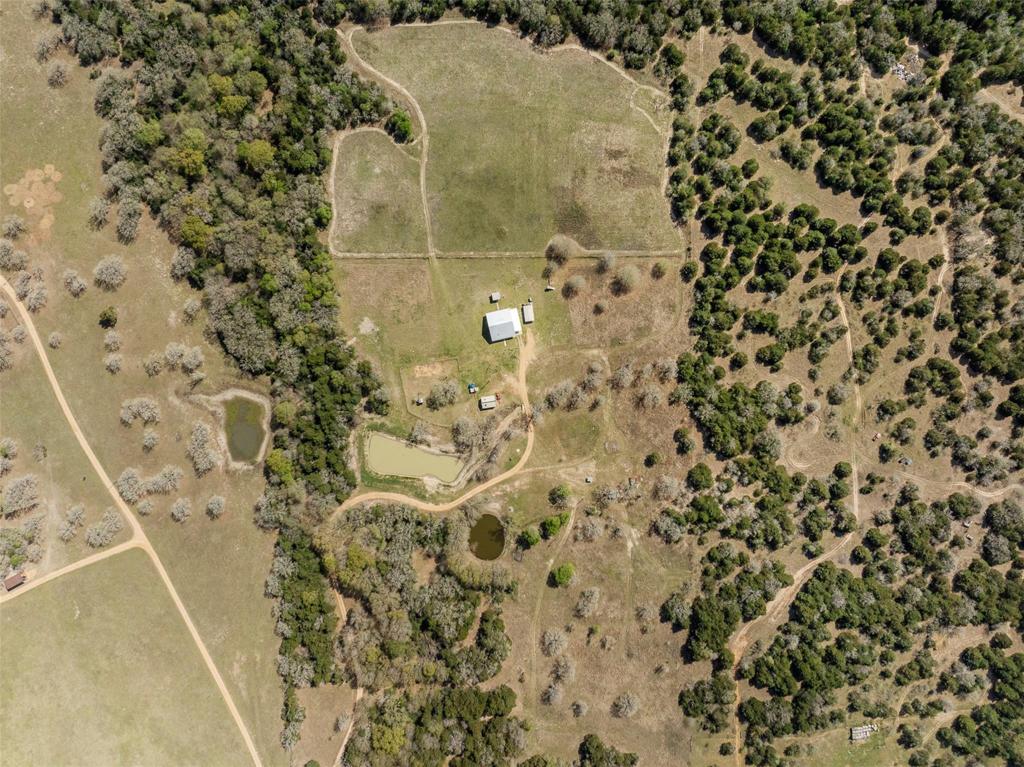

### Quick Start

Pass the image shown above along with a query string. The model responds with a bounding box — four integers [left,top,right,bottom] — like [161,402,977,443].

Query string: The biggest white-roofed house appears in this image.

[486,307,522,341]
